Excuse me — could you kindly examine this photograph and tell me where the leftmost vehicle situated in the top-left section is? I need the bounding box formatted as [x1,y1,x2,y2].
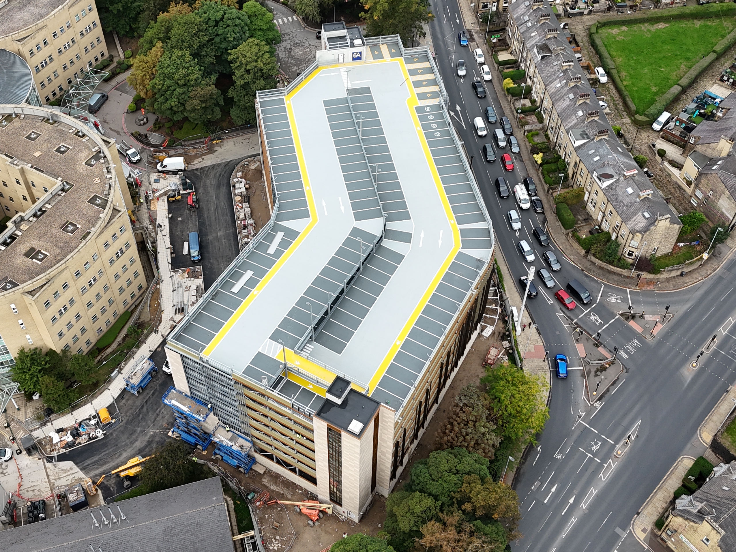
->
[86,94,108,112]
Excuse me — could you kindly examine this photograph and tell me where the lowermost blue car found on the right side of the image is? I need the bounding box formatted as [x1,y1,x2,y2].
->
[554,354,569,380]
